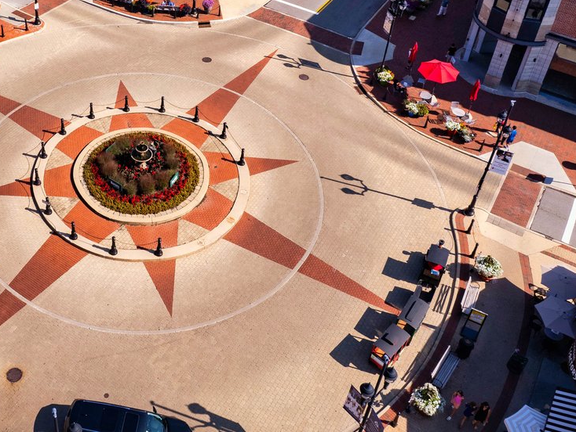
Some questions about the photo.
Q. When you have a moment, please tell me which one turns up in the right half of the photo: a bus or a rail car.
rail car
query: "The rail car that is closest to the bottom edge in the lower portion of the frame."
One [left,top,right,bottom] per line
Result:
[366,324,410,378]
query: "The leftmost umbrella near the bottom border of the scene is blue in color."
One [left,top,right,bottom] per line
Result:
[489,398,545,432]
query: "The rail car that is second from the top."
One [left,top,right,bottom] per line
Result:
[396,296,429,349]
